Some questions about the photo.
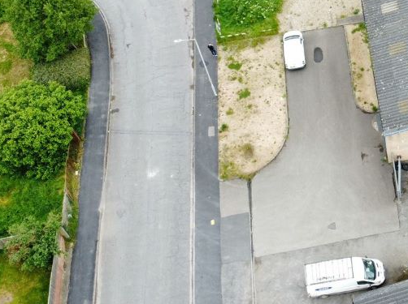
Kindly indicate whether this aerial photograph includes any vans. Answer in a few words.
Yes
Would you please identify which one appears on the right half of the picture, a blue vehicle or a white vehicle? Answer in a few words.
white vehicle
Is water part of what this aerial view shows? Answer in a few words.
No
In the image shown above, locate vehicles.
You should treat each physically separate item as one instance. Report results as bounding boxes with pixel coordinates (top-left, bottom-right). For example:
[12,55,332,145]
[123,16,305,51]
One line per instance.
[304,253,383,297]
[282,32,307,72]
